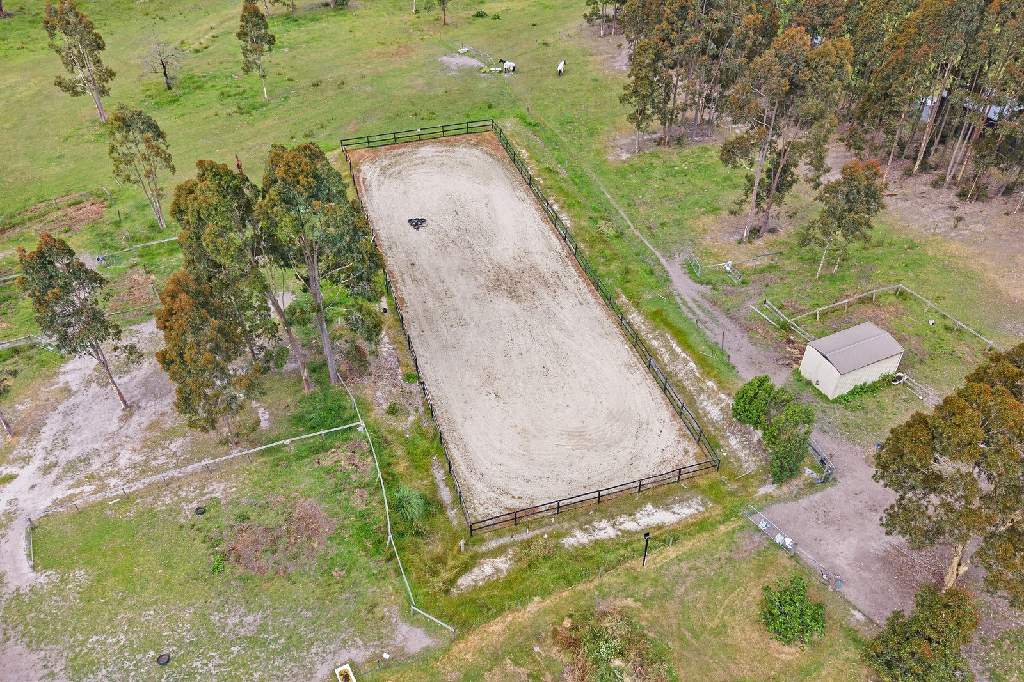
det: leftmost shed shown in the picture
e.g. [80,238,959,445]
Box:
[798,322,907,400]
